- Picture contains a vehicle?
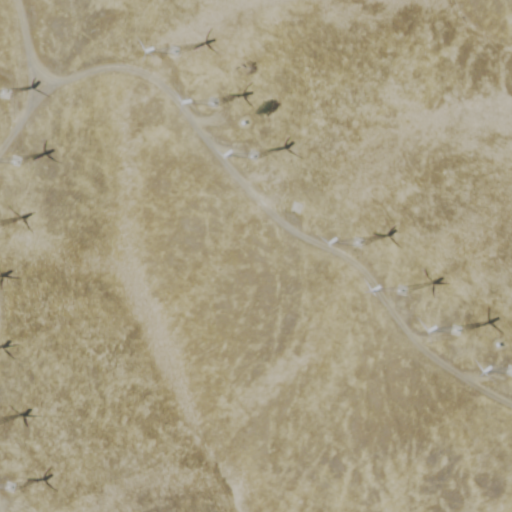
No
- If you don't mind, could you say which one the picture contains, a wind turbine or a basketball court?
wind turbine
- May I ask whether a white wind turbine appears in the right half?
Yes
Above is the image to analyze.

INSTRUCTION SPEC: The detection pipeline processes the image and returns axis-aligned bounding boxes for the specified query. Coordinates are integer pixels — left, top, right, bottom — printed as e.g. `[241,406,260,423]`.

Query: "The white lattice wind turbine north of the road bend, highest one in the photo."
[141,36,180,63]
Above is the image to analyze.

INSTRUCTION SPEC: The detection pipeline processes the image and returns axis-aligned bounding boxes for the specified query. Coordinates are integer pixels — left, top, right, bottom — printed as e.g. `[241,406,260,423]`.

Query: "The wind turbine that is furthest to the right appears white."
[476,359,512,384]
